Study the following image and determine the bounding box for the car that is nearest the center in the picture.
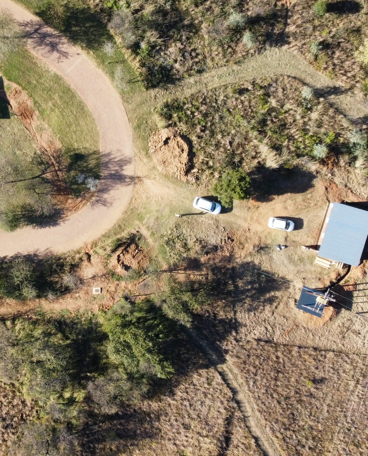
[193,195,221,215]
